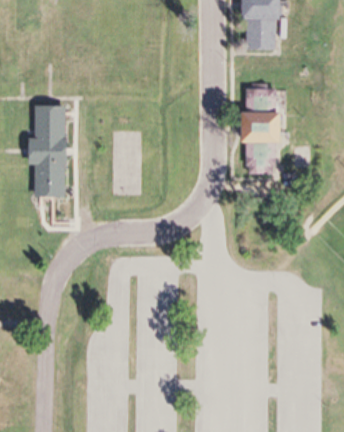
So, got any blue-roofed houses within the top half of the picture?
No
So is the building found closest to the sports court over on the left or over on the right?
left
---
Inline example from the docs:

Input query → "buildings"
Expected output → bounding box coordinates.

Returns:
[241,82,280,174]
[28,105,67,196]
[242,0,288,50]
